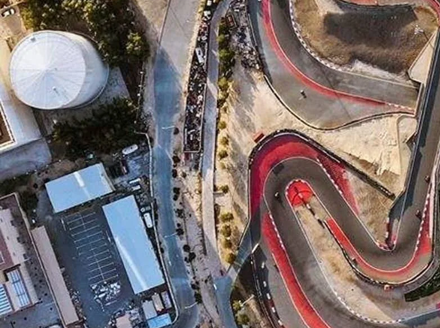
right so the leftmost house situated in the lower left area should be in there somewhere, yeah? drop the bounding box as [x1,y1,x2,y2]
[0,208,44,316]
